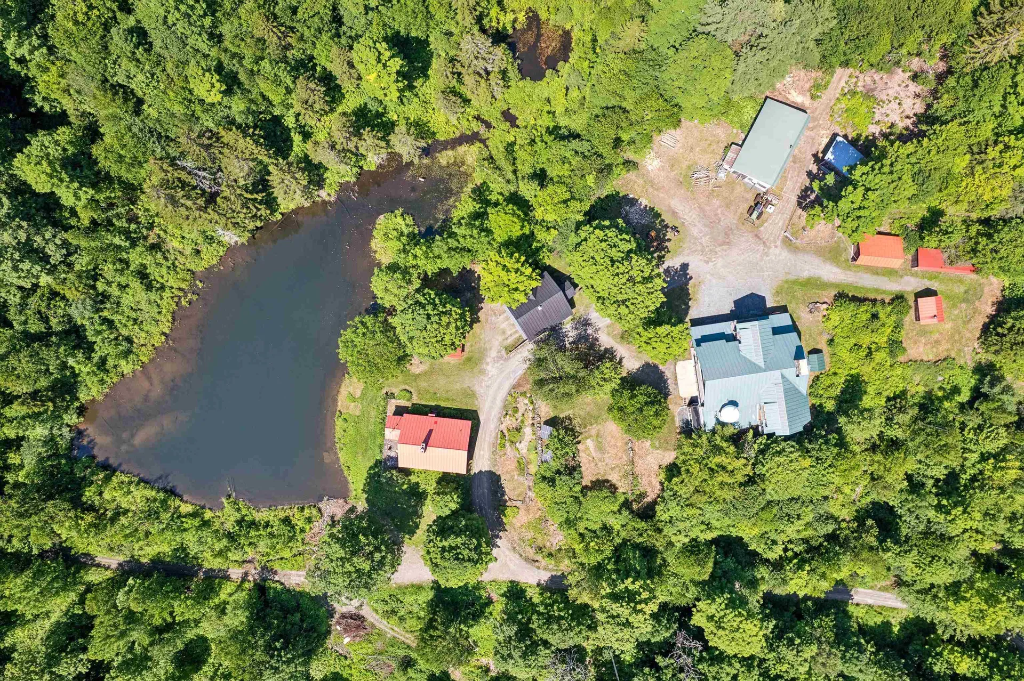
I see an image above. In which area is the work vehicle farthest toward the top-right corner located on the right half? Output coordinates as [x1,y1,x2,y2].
[739,188,774,233]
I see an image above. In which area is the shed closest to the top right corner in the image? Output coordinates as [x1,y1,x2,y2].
[817,135,866,181]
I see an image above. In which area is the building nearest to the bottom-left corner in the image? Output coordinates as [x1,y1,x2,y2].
[385,414,472,474]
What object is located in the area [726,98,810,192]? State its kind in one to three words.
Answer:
building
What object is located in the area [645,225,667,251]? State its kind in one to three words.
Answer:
work vehicle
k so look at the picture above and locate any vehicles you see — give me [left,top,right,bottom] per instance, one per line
[645,225,667,251]
[739,188,774,233]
